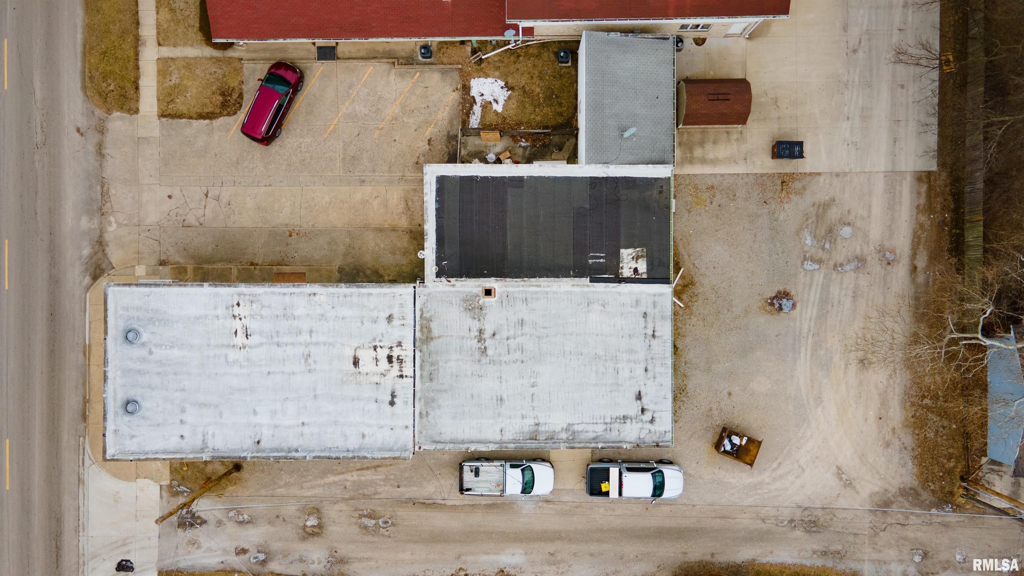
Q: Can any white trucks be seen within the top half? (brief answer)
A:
No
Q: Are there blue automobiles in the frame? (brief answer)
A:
No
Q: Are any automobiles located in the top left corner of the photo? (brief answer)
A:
Yes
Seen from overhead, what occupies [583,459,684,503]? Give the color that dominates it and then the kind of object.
white truck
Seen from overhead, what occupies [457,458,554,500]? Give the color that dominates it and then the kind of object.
white truck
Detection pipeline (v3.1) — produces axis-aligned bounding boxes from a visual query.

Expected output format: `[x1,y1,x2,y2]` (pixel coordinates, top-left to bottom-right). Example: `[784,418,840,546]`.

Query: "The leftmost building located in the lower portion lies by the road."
[102,279,421,461]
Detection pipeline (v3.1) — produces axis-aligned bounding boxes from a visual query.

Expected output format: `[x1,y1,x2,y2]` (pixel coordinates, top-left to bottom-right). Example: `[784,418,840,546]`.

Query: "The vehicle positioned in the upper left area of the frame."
[240,59,305,148]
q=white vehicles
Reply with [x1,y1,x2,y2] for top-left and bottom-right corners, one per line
[583,459,684,503]
[457,458,554,500]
